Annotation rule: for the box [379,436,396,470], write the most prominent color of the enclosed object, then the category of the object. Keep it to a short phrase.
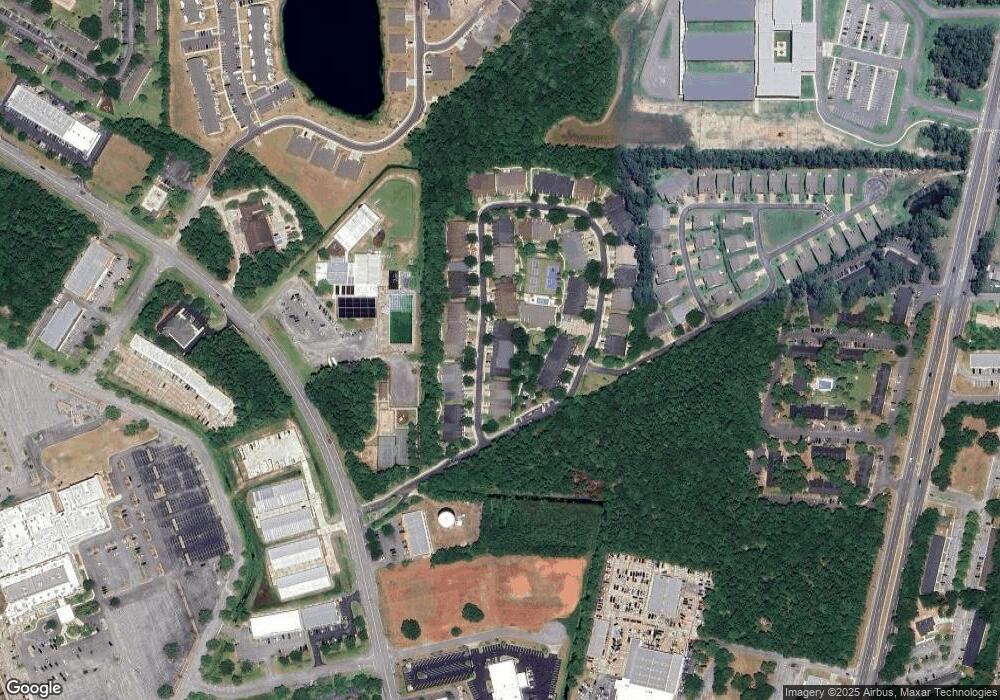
gray tennis court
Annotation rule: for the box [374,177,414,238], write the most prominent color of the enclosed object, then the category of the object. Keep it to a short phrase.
green sports field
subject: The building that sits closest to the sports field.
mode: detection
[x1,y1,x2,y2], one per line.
[335,205,378,251]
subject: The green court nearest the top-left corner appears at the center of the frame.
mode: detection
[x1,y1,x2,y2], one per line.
[390,294,412,344]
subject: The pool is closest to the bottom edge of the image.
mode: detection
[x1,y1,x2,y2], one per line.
[816,378,833,391]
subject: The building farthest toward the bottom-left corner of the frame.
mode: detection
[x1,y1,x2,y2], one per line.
[0,475,122,624]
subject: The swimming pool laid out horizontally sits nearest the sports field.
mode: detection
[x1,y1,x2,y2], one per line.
[525,294,561,308]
